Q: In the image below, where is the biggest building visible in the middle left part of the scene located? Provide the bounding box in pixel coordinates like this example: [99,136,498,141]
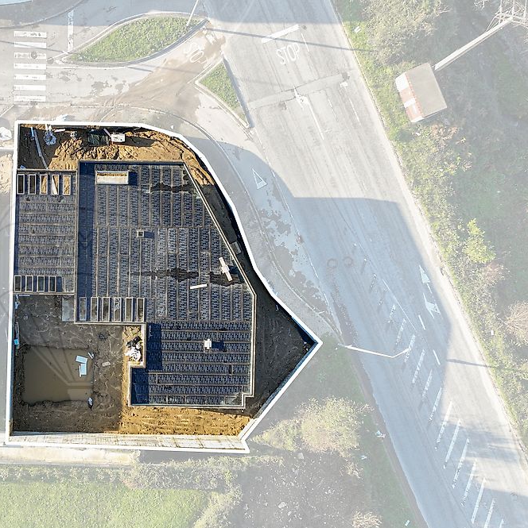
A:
[11,161,256,410]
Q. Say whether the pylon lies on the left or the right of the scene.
right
